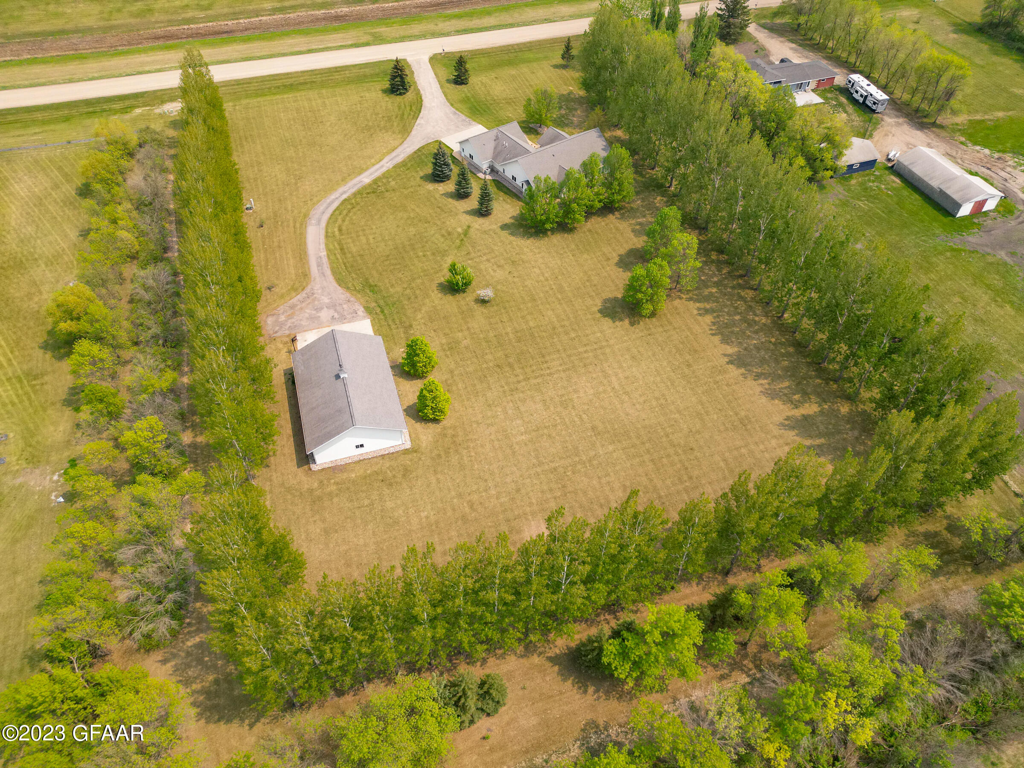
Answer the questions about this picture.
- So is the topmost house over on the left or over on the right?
right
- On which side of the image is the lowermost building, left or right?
left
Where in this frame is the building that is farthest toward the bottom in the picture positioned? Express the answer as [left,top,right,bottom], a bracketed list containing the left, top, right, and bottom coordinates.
[291,329,408,464]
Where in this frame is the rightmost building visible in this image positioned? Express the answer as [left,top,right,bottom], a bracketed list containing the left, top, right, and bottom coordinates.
[893,146,1005,218]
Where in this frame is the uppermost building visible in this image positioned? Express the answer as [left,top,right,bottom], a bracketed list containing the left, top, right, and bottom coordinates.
[736,57,840,94]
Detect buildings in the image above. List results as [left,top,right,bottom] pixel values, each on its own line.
[814,137,881,178]
[736,57,840,94]
[455,121,613,200]
[893,146,1005,218]
[291,329,408,464]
